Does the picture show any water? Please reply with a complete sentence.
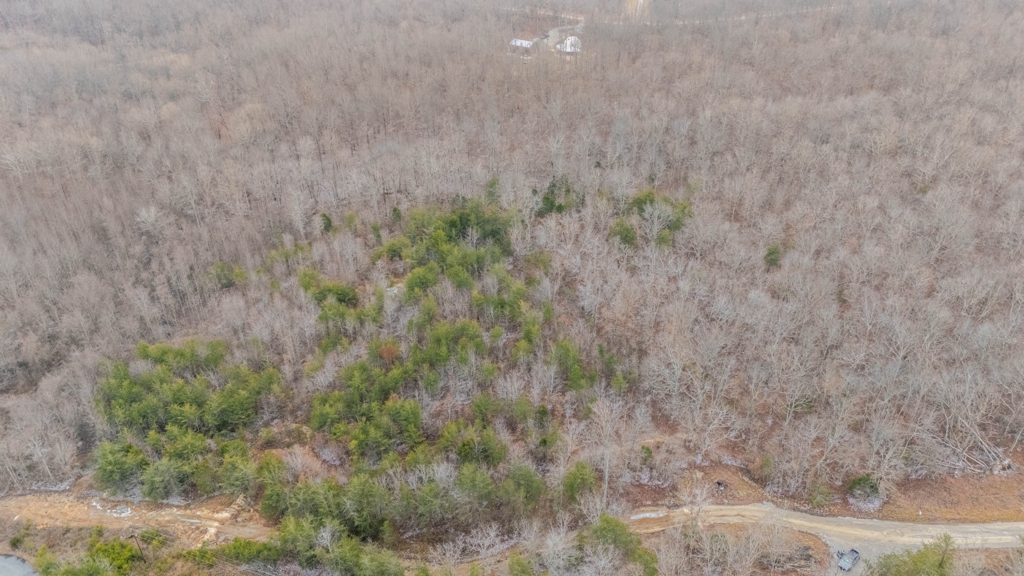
No, the picture contains no water.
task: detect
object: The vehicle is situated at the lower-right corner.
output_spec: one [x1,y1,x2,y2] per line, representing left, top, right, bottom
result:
[839,548,861,573]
